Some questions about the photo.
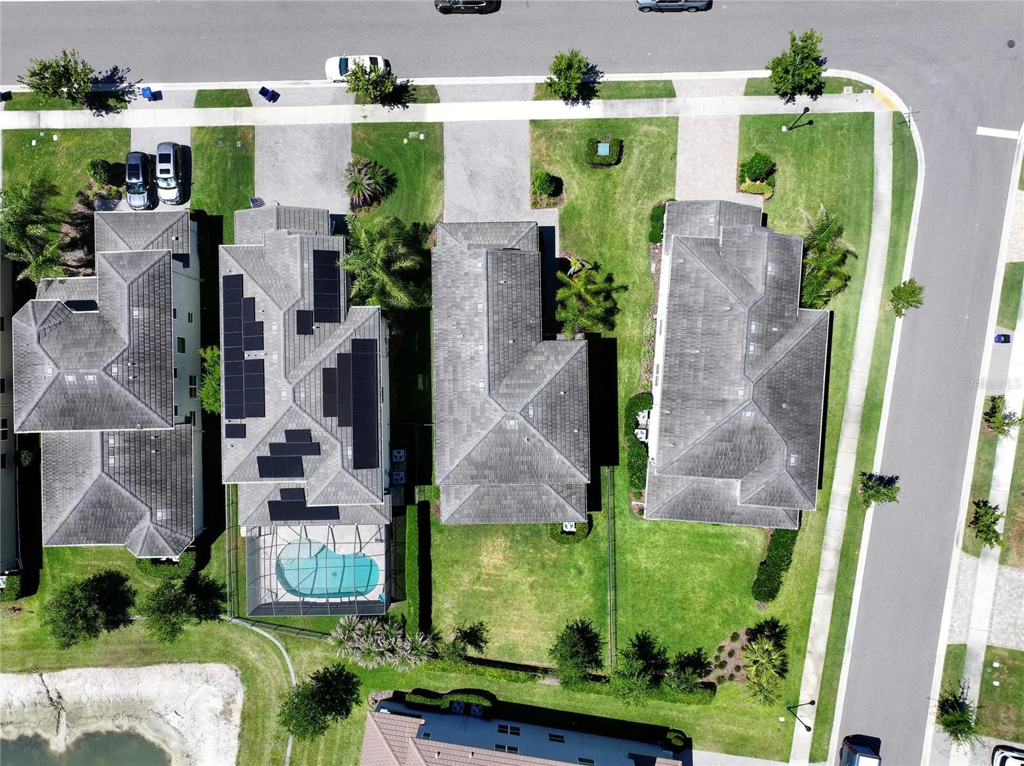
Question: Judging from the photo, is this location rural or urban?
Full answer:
The land in this view is best described as urban.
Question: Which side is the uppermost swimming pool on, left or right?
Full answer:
You can find the uppermost swimming pool on the left side of the picture.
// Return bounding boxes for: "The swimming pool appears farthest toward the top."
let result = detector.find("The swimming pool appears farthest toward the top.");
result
[276,538,379,598]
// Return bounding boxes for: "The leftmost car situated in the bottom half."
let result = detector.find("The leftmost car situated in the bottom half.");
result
[839,734,872,766]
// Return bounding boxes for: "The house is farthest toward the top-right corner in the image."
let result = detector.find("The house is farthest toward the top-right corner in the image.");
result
[643,200,832,531]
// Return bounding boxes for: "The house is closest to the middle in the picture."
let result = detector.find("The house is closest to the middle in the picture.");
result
[430,220,591,526]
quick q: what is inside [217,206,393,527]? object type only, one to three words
house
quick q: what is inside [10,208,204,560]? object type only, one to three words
house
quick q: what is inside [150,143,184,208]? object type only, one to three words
car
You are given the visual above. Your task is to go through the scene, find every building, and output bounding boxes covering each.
[430,220,591,526]
[359,701,682,766]
[217,206,393,527]
[643,200,832,531]
[10,208,204,560]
